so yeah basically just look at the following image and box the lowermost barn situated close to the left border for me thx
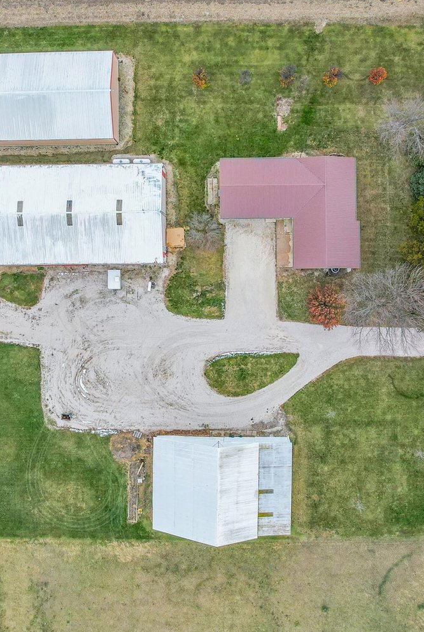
[0,163,167,266]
